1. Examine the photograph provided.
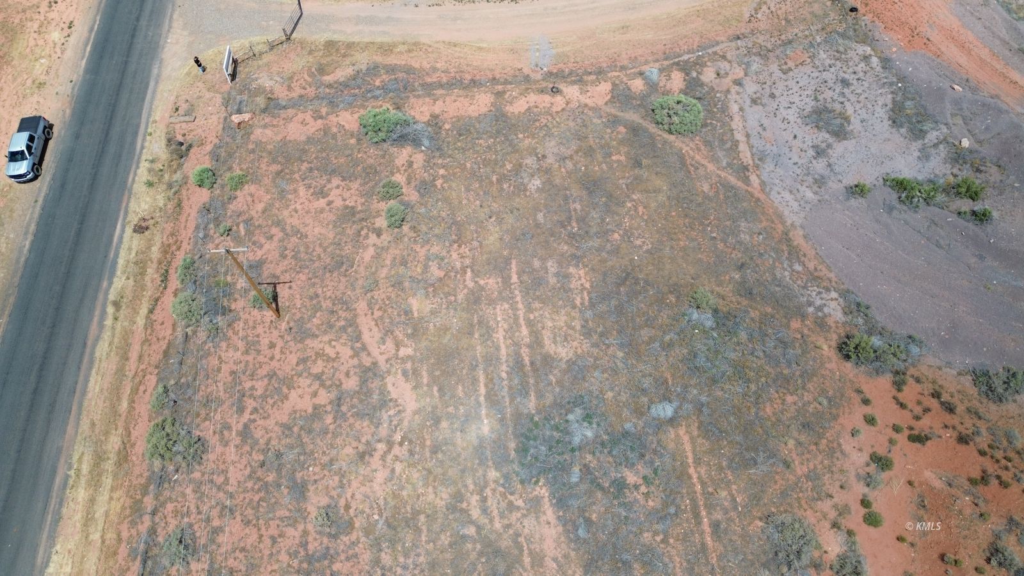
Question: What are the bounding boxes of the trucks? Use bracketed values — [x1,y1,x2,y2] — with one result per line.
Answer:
[4,116,53,182]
